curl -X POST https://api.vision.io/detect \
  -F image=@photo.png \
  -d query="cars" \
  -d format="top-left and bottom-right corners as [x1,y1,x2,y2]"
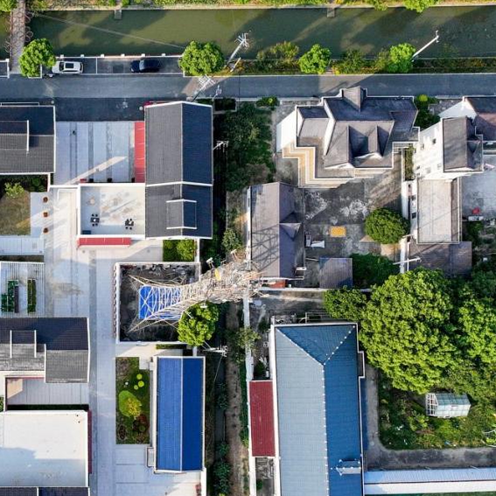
[51,61,83,75]
[130,58,160,74]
